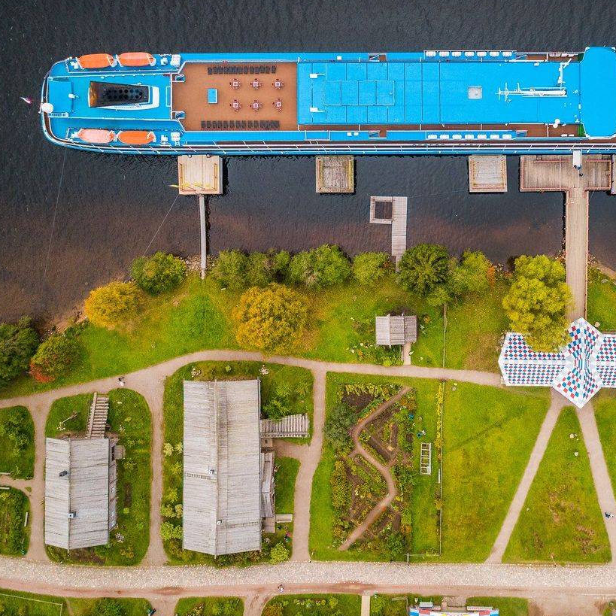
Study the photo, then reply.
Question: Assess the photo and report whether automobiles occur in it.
No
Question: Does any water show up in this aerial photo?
Yes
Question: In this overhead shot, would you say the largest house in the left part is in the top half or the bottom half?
bottom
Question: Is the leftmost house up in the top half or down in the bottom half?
bottom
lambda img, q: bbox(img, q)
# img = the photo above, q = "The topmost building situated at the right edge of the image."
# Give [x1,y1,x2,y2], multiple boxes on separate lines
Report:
[498,317,616,410]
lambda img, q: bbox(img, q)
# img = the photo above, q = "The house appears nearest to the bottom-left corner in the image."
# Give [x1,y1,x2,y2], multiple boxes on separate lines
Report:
[44,393,128,554]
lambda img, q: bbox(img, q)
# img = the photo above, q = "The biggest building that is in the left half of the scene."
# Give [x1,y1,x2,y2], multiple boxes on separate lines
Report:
[183,377,310,560]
